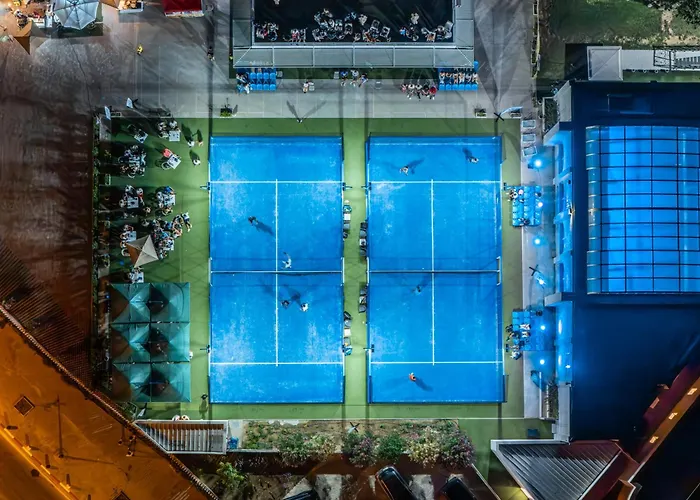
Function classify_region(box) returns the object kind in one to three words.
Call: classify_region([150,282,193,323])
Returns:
gazebo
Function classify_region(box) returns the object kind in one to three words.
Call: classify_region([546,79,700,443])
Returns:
building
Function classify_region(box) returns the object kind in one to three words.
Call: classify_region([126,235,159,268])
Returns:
umbrella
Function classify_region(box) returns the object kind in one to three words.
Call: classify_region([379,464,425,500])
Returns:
car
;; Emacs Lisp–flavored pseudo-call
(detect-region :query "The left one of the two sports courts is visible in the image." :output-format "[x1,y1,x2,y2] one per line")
[204,133,344,406]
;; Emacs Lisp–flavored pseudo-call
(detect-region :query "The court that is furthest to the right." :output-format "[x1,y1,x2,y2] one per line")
[366,132,510,406]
